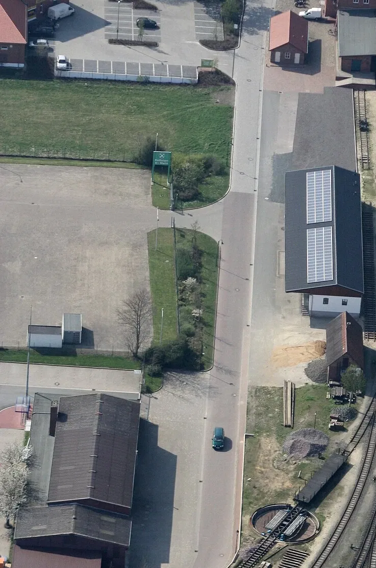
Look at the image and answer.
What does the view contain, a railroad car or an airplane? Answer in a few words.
railroad car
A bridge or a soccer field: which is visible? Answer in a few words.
bridge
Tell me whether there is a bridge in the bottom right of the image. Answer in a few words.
Yes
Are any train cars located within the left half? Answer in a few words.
No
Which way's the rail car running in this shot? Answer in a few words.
on a diagonal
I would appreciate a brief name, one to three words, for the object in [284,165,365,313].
shed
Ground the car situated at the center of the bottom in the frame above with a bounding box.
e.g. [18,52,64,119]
[213,429,225,446]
